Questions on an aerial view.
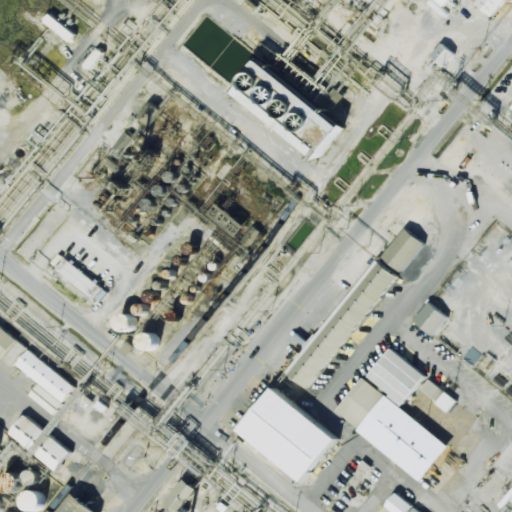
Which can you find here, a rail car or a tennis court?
rail car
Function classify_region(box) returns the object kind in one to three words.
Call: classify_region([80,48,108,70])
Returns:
building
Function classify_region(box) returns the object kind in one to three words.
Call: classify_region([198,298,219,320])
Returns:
rail car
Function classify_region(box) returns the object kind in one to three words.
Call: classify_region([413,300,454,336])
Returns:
building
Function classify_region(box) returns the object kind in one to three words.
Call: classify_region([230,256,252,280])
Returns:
rail car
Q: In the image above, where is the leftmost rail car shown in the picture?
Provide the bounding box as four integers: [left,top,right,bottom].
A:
[104,420,124,443]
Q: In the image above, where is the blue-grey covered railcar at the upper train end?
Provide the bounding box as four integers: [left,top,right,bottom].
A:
[280,195,301,218]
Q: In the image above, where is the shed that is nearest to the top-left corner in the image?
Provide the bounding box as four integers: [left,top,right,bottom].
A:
[42,13,80,44]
